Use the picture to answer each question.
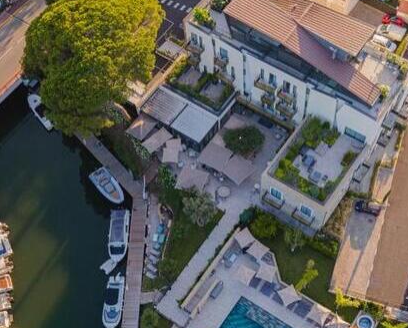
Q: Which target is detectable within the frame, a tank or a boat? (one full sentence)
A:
I can see a boat in this picture.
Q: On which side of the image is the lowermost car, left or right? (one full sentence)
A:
The lowermost car appears in the right half of the scene.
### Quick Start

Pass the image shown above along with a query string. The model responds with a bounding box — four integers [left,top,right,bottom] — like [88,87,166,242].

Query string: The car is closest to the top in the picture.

[380,13,406,26]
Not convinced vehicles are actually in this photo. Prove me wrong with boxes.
[370,29,399,54]
[355,198,384,218]
[378,22,408,45]
[380,13,406,26]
